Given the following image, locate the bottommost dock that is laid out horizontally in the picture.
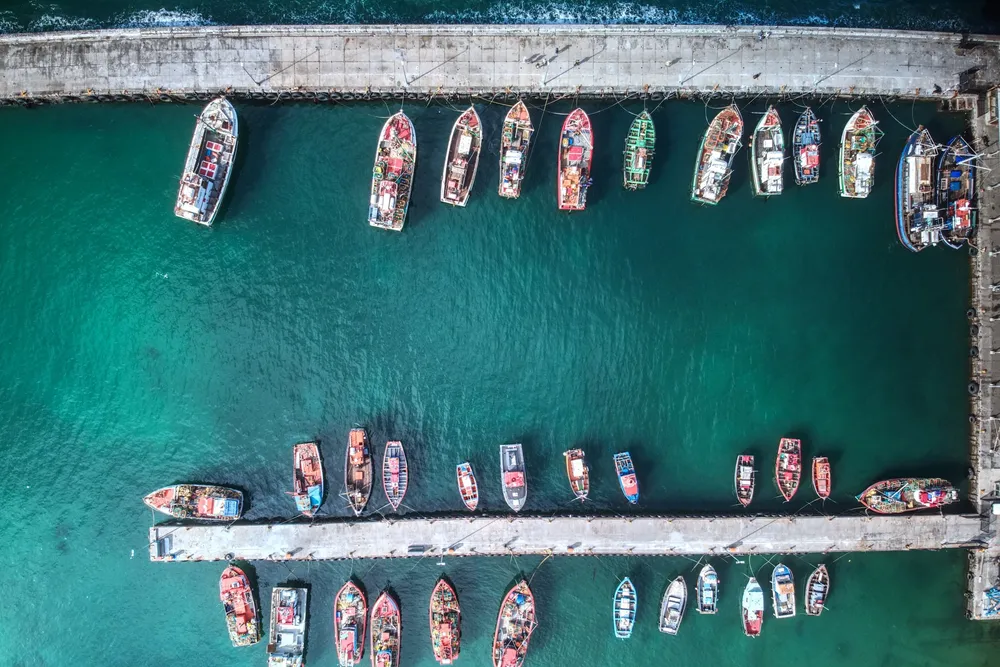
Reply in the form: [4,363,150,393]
[149,512,976,563]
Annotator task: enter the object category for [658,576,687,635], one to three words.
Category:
boat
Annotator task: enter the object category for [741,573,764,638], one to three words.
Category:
boat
